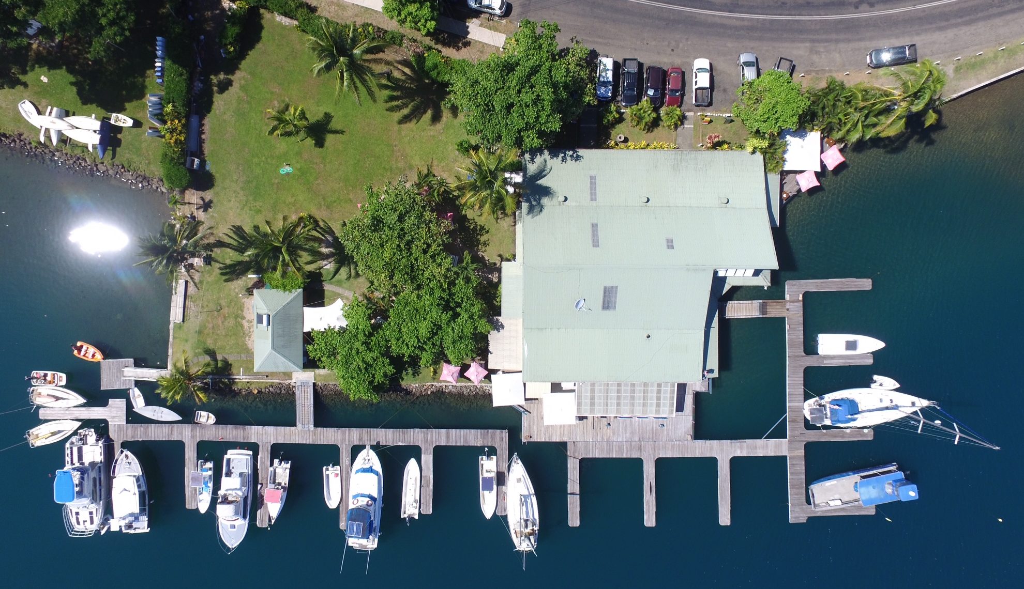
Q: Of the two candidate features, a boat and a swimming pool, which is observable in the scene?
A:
boat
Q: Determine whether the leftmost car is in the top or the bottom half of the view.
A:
top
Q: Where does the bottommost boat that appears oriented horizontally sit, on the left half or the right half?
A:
right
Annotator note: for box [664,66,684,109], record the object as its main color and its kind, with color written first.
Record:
red car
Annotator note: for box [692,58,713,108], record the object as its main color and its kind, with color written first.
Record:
white truck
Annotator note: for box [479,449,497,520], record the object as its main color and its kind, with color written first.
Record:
white boat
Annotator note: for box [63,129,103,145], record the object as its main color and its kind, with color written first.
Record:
white boat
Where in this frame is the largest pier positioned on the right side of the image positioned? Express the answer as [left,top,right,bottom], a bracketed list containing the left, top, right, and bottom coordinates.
[561,274,875,526]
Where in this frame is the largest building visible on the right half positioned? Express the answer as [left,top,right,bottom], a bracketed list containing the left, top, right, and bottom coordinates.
[488,149,780,383]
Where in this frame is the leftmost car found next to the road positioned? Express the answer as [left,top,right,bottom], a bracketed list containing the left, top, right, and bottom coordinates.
[463,0,510,20]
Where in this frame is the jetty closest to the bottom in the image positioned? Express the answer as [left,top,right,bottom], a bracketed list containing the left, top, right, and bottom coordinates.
[109,424,509,529]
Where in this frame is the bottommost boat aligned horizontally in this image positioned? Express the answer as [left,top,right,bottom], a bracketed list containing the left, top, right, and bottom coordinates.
[807,464,918,512]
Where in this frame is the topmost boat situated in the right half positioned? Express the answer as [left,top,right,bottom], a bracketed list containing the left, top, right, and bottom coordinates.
[812,333,886,355]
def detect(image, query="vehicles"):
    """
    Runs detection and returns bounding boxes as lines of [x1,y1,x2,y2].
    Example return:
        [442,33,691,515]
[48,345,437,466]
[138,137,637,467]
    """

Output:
[643,64,664,111]
[737,52,760,103]
[864,44,919,70]
[692,58,713,108]
[594,53,615,102]
[463,0,510,20]
[664,66,684,109]
[618,57,640,108]
[773,56,795,86]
